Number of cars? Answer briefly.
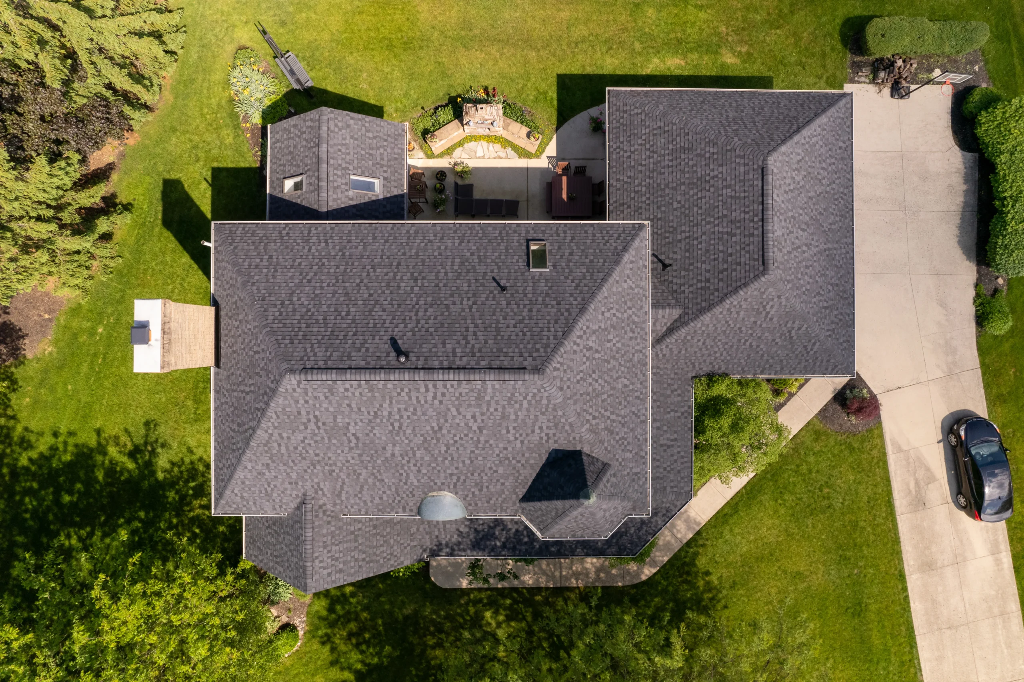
1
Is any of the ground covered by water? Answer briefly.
No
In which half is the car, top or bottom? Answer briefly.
bottom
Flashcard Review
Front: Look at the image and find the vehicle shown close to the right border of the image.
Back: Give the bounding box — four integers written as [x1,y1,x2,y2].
[949,412,1014,526]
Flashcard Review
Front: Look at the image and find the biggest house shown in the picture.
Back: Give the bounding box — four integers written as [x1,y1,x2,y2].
[129,91,854,595]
